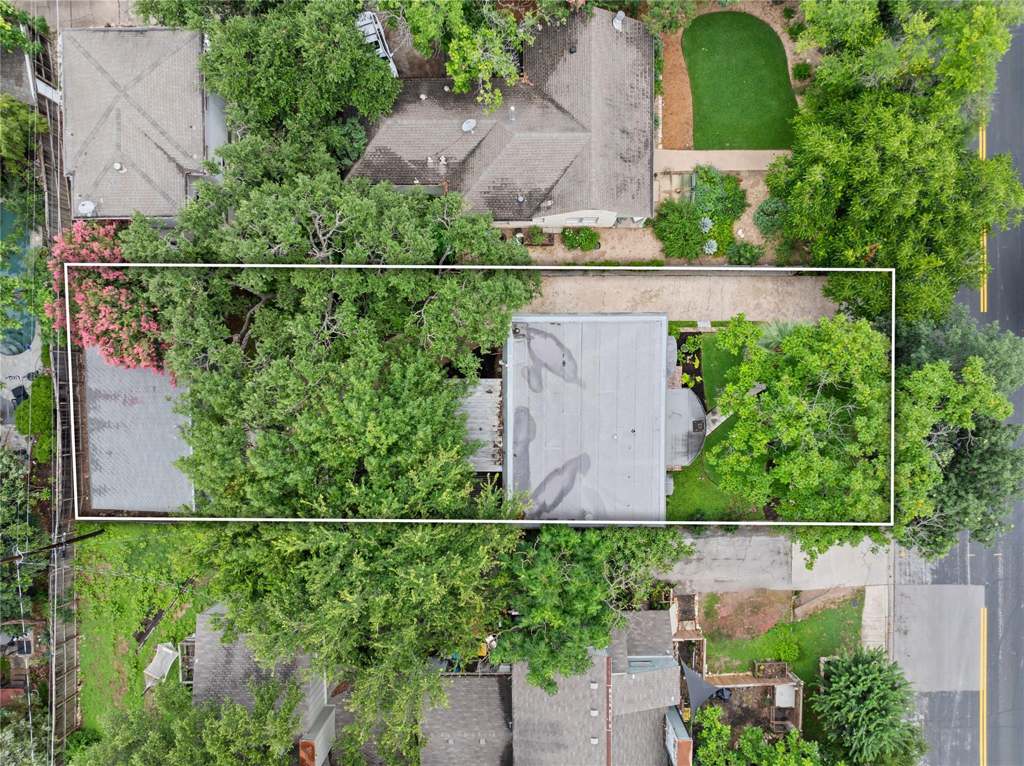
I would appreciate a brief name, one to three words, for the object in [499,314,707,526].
house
